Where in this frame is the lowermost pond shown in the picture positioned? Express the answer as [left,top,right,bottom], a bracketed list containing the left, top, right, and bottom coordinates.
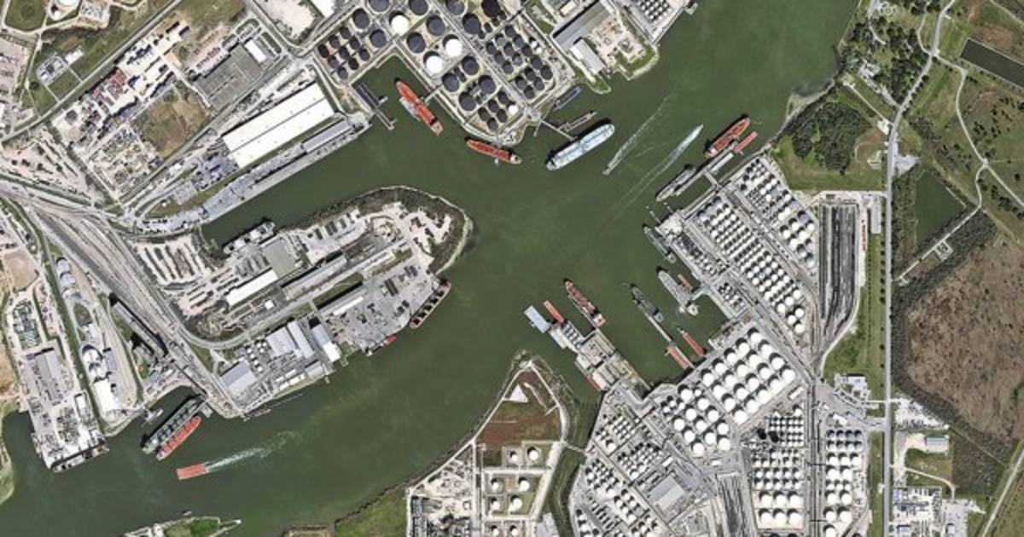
[916,174,965,243]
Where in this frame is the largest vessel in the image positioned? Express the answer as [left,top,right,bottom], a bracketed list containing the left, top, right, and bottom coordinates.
[545,122,614,171]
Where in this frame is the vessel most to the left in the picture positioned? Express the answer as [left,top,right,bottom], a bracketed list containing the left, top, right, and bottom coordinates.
[53,449,109,472]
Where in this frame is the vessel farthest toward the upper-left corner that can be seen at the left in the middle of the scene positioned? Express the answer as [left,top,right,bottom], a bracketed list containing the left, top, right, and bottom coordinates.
[224,221,276,253]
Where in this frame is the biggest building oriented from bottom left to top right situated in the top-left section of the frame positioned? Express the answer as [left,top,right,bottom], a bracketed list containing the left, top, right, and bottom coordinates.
[222,82,337,170]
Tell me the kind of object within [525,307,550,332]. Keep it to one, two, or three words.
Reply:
ship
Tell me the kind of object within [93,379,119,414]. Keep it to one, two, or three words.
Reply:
building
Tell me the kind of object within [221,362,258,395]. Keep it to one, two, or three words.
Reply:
building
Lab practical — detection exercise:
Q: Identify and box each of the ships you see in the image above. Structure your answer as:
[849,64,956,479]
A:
[356,88,378,109]
[563,113,591,130]
[399,97,421,122]
[711,153,735,172]
[565,281,605,328]
[467,139,521,163]
[410,281,451,327]
[396,81,443,135]
[177,468,206,478]
[705,117,750,158]
[176,464,205,474]
[53,449,109,472]
[657,166,697,200]
[667,343,688,369]
[156,418,200,460]
[141,399,201,452]
[631,286,664,324]
[734,133,757,151]
[683,333,704,356]
[224,221,276,253]
[553,87,581,112]
[545,122,614,171]
[645,227,670,256]
[545,301,563,324]
[525,307,550,332]
[657,270,691,312]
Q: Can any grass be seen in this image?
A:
Yes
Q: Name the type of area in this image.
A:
port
